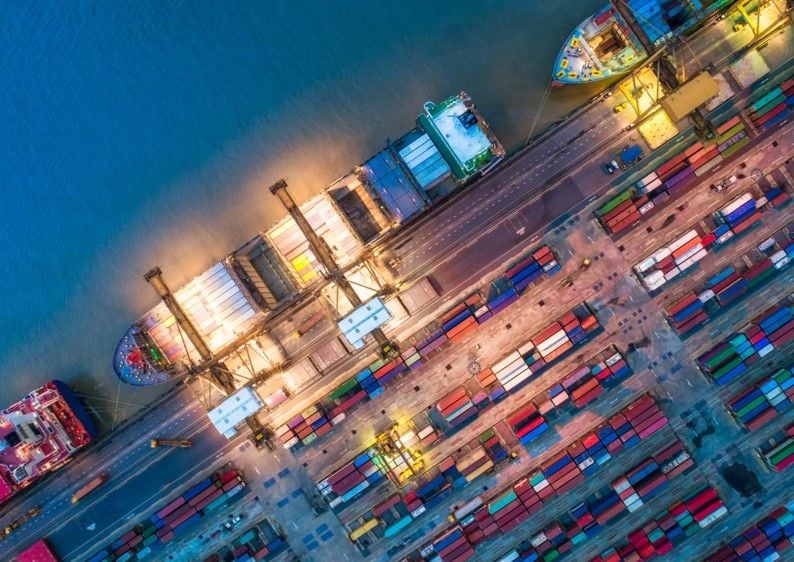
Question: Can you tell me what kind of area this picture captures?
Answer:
port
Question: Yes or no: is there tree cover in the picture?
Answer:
No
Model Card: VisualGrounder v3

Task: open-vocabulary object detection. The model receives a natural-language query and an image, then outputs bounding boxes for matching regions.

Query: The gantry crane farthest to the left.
[142,269,286,445]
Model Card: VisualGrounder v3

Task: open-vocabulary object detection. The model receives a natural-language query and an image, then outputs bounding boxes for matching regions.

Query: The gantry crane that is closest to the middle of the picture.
[270,183,395,356]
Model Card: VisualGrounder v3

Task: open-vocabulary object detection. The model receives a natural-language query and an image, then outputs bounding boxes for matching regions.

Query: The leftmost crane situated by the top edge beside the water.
[594,0,721,139]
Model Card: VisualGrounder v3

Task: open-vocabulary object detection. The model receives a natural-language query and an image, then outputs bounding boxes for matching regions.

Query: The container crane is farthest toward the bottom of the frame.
[368,415,429,494]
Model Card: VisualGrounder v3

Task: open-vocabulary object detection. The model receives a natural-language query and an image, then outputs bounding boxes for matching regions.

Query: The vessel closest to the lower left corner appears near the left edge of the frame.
[0,382,106,498]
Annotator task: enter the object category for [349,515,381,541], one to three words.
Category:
shipping container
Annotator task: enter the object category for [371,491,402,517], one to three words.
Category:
shipping container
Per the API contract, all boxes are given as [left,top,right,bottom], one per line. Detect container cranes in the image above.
[270,183,395,356]
[594,0,721,139]
[368,415,429,494]
[707,0,794,61]
[142,269,286,445]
